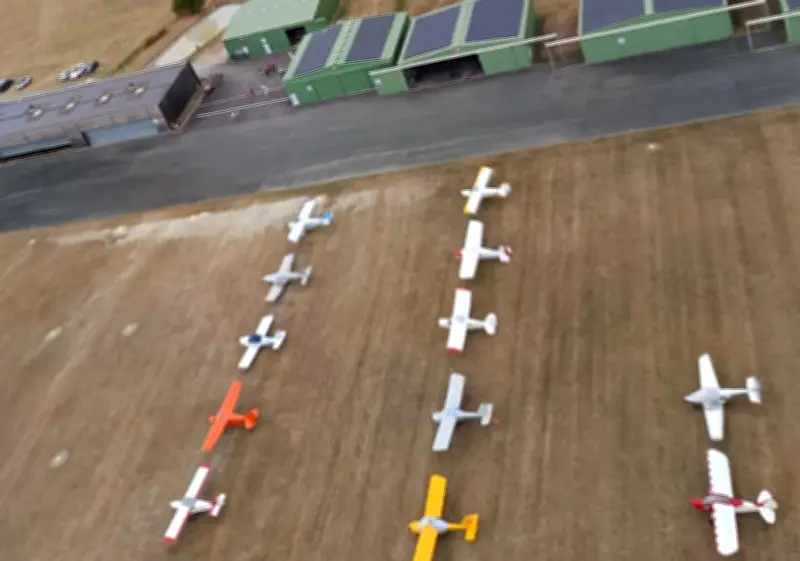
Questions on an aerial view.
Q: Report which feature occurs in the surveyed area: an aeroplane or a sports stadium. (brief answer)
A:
aeroplane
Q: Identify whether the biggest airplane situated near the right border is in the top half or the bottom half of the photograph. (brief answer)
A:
bottom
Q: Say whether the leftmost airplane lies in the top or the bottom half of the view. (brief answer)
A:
bottom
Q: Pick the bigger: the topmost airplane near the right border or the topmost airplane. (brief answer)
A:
the topmost airplane near the right border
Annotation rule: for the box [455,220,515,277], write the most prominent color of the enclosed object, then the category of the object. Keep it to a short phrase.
white airplane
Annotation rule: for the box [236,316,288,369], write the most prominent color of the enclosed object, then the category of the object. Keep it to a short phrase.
white airplane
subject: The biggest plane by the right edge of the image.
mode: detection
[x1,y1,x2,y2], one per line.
[687,454,780,558]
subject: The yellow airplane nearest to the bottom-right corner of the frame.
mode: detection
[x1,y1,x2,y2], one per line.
[409,474,482,561]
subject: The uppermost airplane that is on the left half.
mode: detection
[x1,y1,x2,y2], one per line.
[286,195,334,238]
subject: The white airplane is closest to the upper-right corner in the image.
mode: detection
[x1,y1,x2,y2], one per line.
[460,164,512,212]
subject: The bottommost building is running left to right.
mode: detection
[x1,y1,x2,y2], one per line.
[0,59,209,163]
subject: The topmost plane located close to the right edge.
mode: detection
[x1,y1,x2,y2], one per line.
[683,358,763,442]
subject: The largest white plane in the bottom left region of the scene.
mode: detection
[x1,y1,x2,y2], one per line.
[166,466,230,548]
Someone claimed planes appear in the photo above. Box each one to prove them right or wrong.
[687,454,780,558]
[200,379,262,452]
[683,358,763,442]
[437,286,502,352]
[430,374,495,451]
[409,474,482,561]
[166,466,230,548]
[455,220,515,277]
[236,316,288,369]
[460,164,512,212]
[262,255,316,301]
[286,195,334,238]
